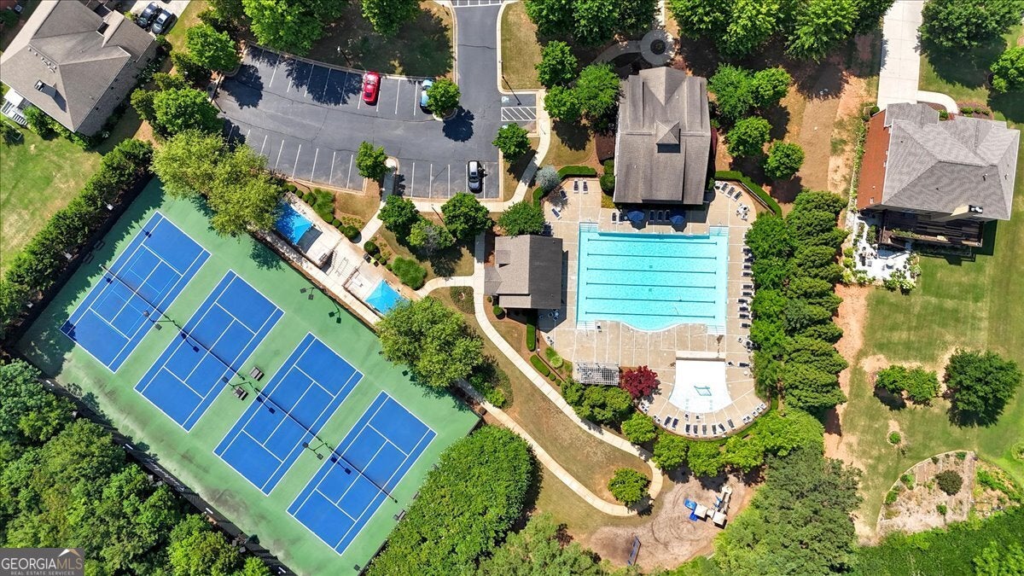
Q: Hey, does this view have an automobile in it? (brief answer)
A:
Yes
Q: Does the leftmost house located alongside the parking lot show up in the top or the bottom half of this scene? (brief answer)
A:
top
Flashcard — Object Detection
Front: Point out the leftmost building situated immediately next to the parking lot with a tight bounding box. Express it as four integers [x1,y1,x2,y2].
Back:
[0,0,164,133]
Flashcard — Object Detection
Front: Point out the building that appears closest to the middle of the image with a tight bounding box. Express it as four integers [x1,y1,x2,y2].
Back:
[485,235,563,308]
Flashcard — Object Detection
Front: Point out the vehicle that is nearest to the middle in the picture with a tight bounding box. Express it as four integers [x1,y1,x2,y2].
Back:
[468,160,481,192]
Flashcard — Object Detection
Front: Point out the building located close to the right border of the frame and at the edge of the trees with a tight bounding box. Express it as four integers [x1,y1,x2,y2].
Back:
[859,103,1020,251]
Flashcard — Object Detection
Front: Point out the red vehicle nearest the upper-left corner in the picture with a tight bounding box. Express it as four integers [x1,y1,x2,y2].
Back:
[364,71,379,102]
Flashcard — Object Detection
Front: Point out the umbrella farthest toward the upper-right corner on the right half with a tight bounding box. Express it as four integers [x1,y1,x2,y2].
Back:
[667,211,685,229]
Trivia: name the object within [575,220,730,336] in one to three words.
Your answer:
swimming pool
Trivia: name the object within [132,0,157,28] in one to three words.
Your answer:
car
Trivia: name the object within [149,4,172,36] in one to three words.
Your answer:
car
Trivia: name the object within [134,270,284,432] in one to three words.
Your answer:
tennis court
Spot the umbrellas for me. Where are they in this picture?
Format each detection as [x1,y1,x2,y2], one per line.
[626,206,645,225]
[667,211,685,229]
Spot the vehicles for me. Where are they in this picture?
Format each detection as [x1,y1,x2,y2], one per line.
[364,71,379,102]
[418,78,432,108]
[132,0,157,28]
[149,4,172,36]
[468,160,481,192]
